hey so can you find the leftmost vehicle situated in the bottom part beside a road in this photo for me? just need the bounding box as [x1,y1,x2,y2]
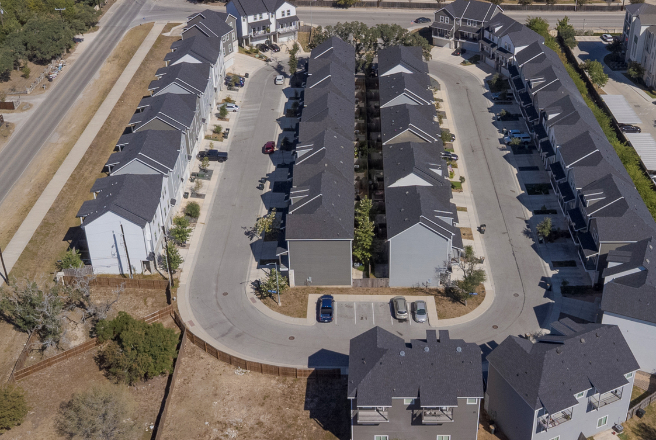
[318,294,334,322]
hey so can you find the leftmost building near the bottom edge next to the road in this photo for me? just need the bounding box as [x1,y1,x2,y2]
[344,324,482,440]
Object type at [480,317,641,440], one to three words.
house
